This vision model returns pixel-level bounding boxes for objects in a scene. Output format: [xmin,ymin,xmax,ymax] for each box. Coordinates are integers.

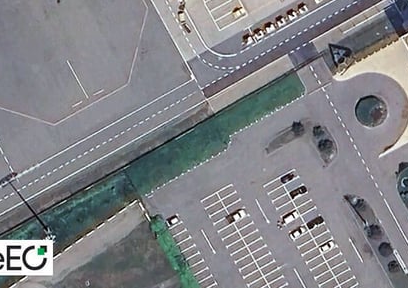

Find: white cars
[321,241,335,252]
[283,212,299,223]
[290,227,306,239]
[167,216,180,226]
[232,209,247,221]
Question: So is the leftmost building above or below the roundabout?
above it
